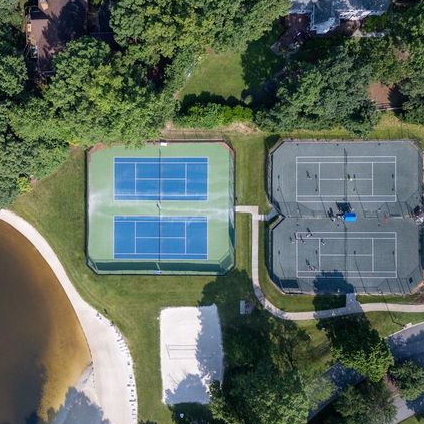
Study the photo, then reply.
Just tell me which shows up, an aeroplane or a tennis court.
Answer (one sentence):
Of the two, only a tennis court appears.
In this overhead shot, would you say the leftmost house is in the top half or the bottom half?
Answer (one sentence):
It is in the top half that the leftmost house appears.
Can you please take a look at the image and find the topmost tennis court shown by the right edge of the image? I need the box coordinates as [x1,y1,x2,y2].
[275,142,422,217]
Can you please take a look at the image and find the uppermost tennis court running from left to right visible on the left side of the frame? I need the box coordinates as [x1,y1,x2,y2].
[89,143,233,209]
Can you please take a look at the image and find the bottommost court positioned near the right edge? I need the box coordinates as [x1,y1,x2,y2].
[273,217,422,293]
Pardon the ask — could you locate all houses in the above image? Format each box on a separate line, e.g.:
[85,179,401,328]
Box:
[280,0,394,39]
[22,0,89,61]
